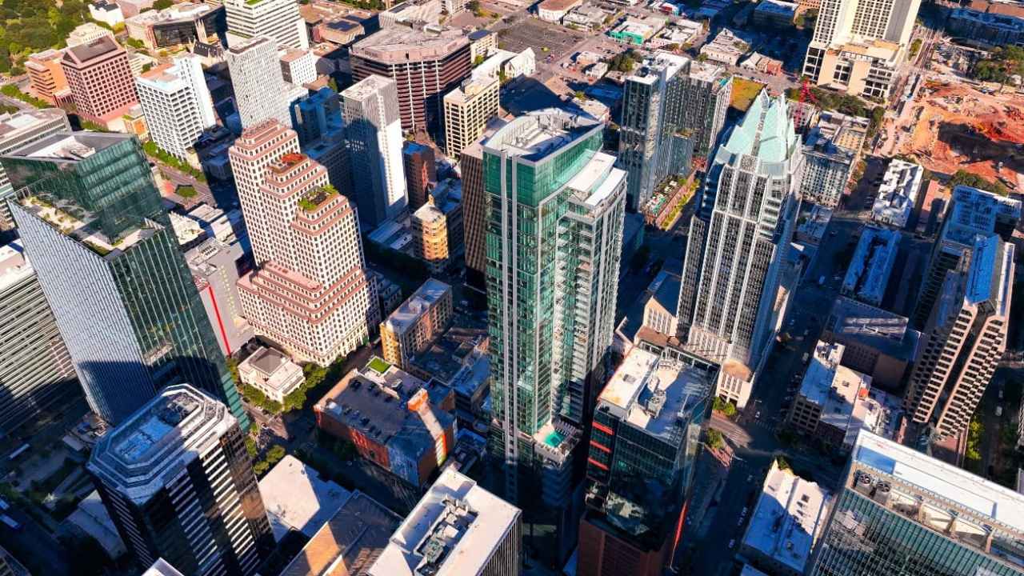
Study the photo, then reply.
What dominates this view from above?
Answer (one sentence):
The bulk of the photo consists of buildings.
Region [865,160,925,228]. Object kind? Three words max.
building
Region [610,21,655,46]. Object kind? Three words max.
building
